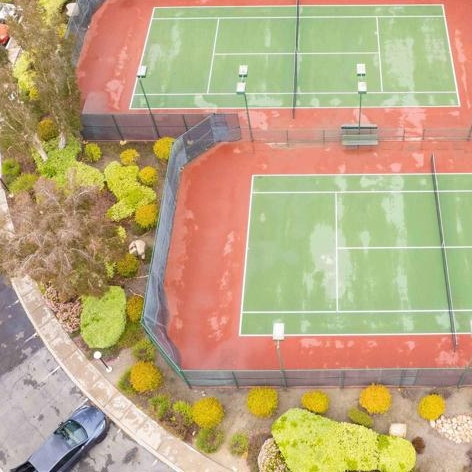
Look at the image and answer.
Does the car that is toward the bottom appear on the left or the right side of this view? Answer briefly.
left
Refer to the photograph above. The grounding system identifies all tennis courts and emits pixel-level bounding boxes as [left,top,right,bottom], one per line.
[154,137,472,372]
[78,0,472,139]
